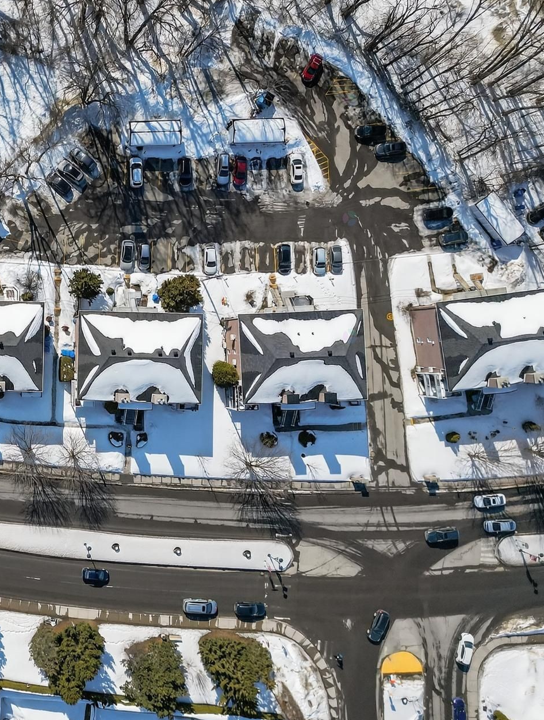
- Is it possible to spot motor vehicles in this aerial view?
Yes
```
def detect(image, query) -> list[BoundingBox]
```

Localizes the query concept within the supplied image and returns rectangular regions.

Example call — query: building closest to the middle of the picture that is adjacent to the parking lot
[226,308,368,426]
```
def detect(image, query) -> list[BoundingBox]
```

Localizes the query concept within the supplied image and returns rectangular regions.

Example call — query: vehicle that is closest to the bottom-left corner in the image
[81,568,109,583]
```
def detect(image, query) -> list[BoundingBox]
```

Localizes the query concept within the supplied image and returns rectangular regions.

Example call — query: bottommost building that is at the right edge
[416,290,544,412]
